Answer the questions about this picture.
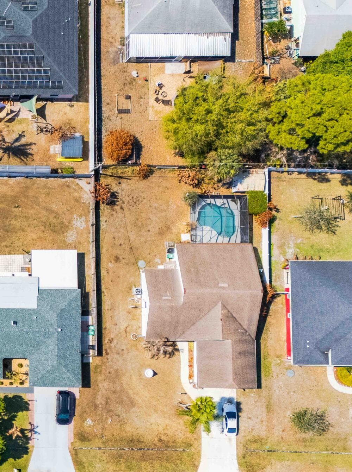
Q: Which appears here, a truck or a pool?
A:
pool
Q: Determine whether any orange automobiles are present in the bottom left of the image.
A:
No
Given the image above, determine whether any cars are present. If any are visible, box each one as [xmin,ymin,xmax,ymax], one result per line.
[56,389,72,424]
[222,403,239,437]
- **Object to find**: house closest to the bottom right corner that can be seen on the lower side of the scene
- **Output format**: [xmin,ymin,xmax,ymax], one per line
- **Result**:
[285,260,352,367]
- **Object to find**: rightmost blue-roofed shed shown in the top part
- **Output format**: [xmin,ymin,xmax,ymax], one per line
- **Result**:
[59,134,84,158]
